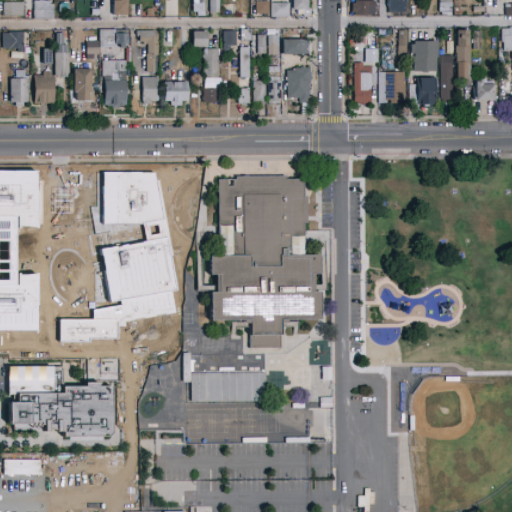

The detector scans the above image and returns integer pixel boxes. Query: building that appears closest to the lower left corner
[4,460,43,476]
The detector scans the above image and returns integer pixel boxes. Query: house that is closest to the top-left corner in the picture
[2,1,25,16]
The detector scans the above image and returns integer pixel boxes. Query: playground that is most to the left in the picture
[140,392,166,418]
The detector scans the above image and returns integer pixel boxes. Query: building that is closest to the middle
[212,176,322,348]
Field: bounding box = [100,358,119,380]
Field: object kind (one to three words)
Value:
shed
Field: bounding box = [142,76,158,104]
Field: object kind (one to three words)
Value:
house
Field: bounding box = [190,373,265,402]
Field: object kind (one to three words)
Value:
building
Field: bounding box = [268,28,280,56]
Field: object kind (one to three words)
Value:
house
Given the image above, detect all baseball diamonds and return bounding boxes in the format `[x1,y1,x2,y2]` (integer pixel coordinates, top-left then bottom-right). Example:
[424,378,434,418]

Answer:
[414,377,475,440]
